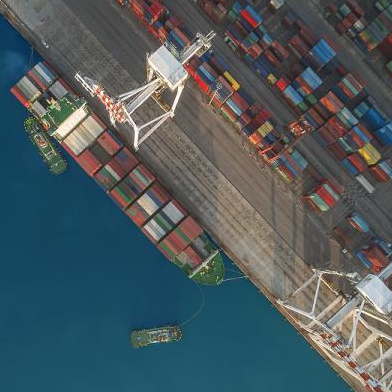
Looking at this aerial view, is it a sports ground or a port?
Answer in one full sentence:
This image shows a port.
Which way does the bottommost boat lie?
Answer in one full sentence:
The bottommost boat is laid out horizontally.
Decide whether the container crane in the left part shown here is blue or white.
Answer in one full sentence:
From above, the container crane in the left part appears white.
